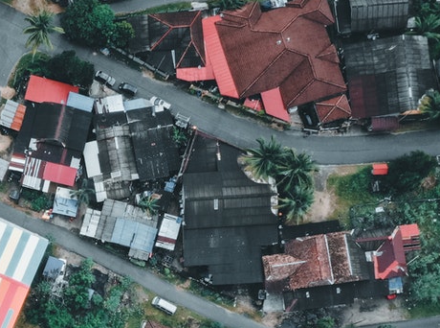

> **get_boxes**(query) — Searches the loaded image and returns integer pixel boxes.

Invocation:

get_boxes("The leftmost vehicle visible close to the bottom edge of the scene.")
[153,297,176,314]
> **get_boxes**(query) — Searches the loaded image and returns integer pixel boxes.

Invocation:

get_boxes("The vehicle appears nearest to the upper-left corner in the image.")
[92,69,118,87]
